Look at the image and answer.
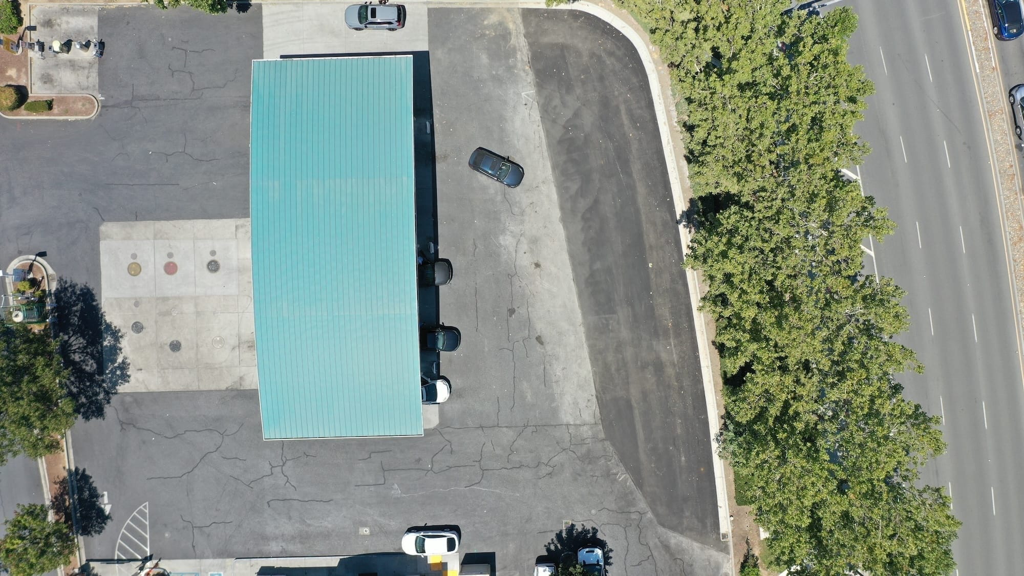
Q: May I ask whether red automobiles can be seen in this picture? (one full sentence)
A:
No, there isn't any red automobile down there.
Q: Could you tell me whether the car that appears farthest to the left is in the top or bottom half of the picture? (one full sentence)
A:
The top half of the photo is where the car that appears farthest to the left is.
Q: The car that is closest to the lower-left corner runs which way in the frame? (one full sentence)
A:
The car that is closest to the lower-left corner runs from left to right in the image.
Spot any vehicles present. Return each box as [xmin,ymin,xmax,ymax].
[419,327,461,354]
[533,562,557,576]
[986,0,1021,43]
[1011,87,1024,143]
[417,260,452,286]
[466,147,525,186]
[345,2,406,32]
[421,372,451,406]
[579,546,605,576]
[402,529,460,557]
